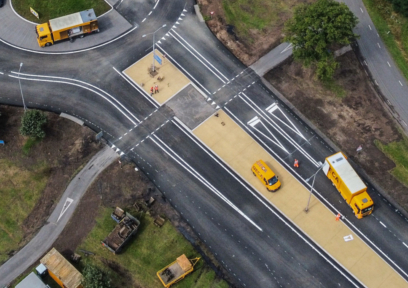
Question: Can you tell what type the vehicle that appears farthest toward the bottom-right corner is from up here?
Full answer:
The vehicle that appears farthest toward the bottom-right corner appears to be a truck.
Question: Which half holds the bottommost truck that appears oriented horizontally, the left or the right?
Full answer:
It is on the left.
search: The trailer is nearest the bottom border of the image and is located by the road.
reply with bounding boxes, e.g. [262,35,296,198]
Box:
[158,253,203,288]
